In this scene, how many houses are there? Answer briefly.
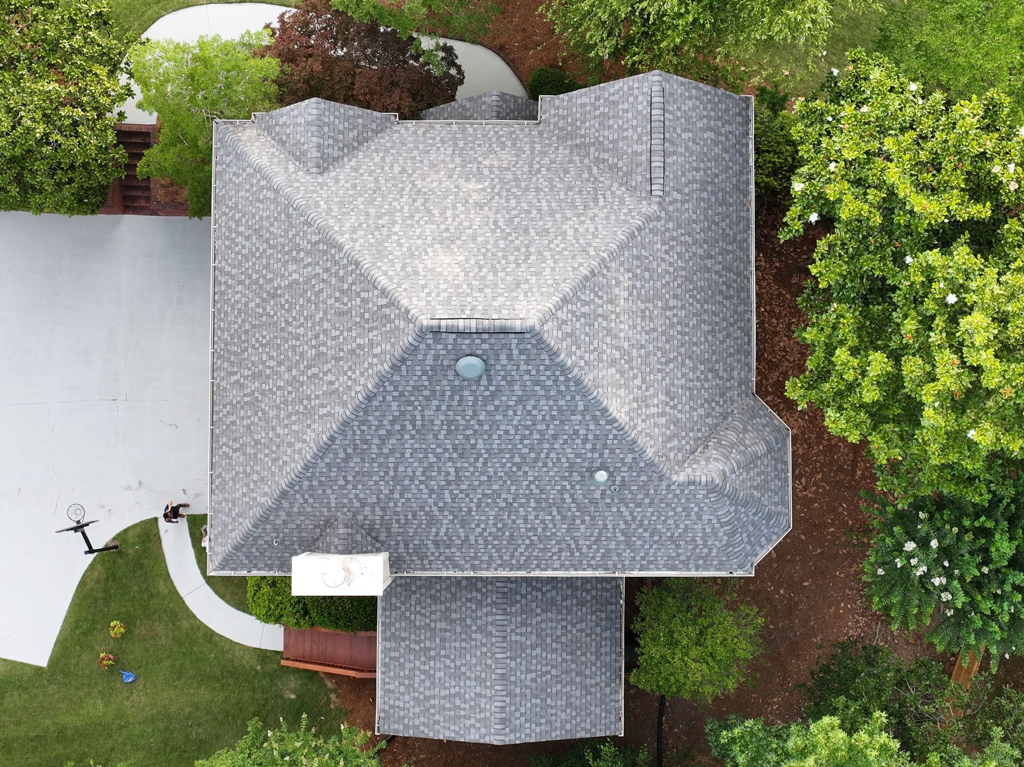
1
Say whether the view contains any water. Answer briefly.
No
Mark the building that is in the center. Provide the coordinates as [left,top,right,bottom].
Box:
[208,69,792,744]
